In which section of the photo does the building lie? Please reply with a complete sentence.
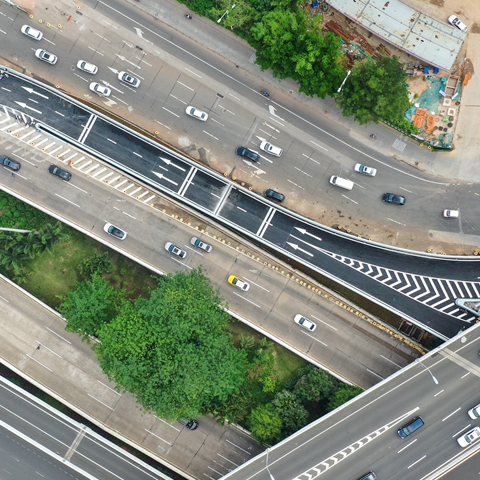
The building appears toward the top right of the photo.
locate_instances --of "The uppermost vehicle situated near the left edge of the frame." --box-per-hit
[22,24,44,42]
